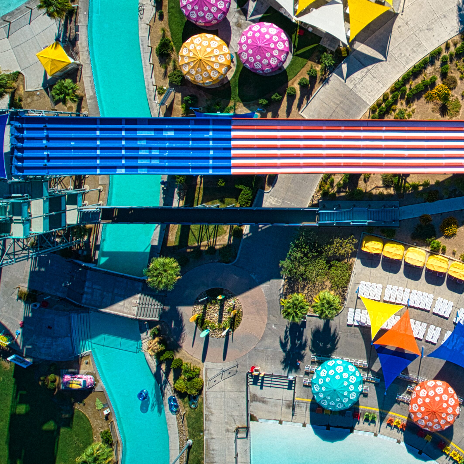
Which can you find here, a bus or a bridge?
bridge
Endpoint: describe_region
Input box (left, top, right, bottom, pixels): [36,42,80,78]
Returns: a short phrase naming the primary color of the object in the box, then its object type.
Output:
yellow tent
